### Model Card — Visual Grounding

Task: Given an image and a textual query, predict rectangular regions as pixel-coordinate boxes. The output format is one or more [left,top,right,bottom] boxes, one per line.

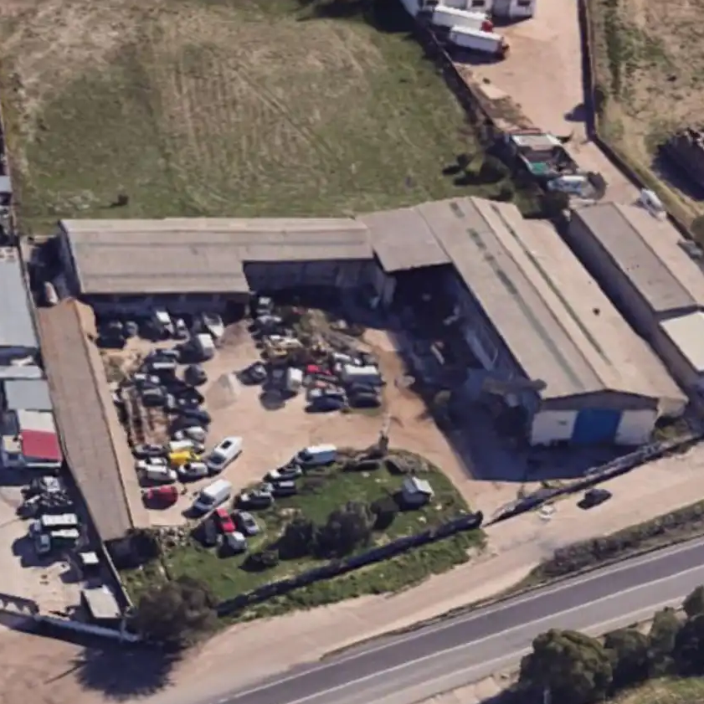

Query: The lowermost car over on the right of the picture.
[578,487,613,510]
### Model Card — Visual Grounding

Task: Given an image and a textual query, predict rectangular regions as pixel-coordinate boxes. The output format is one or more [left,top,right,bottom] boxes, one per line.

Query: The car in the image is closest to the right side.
[682,239,704,264]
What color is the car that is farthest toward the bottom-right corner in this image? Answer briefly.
black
